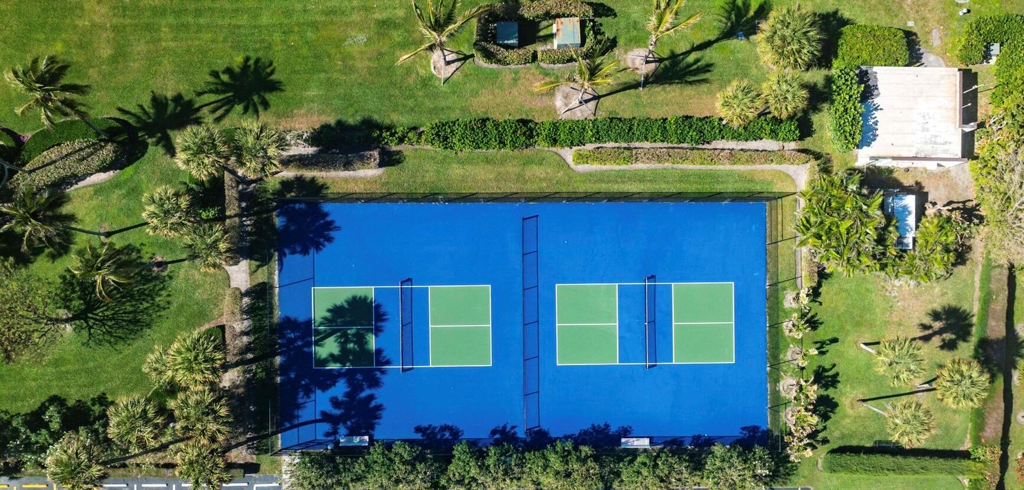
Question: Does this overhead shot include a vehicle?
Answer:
No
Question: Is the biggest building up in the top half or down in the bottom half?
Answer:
top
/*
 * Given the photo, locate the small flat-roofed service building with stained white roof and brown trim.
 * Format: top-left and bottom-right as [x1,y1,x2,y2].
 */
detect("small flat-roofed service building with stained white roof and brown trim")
[854,66,981,171]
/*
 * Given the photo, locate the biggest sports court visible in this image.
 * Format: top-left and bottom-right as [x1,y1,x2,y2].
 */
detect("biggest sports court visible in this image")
[278,202,768,449]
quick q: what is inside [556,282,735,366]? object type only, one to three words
sports court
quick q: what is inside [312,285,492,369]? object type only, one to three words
sports court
